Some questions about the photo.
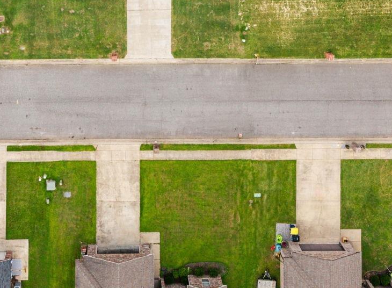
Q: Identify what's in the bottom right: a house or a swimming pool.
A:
house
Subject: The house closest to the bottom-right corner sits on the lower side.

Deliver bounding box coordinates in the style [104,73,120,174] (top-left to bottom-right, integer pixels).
[281,242,362,288]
